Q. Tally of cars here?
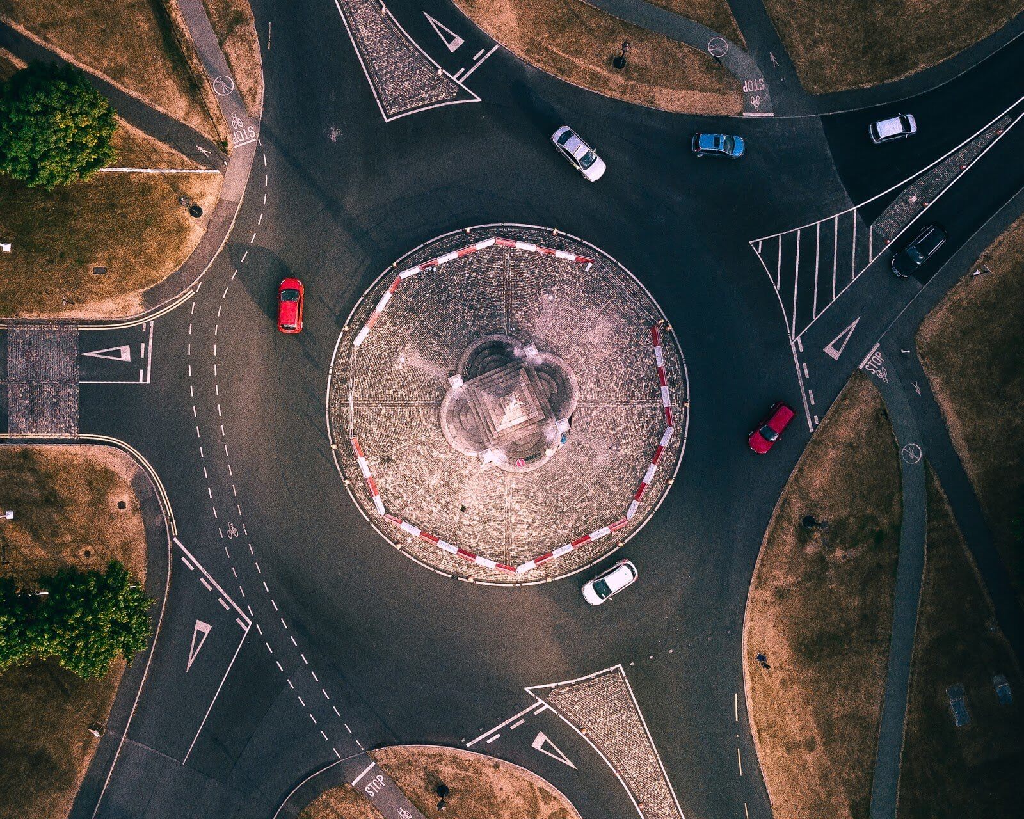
seven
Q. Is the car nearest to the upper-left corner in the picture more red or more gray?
red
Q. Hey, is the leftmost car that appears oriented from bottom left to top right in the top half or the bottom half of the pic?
bottom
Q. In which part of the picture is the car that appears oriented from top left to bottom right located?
top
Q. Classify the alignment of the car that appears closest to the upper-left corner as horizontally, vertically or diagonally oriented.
vertically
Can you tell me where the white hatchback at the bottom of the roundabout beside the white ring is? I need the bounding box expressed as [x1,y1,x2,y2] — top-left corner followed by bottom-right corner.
[583,560,638,602]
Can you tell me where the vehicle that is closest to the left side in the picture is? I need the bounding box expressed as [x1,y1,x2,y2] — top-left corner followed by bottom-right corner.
[276,278,305,334]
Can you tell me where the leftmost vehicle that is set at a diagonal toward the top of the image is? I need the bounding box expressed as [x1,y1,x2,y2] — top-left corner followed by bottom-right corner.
[553,126,603,181]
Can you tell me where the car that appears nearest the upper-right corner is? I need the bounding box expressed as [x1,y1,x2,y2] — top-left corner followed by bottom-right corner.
[868,113,915,144]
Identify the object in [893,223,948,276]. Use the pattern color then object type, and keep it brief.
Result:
black car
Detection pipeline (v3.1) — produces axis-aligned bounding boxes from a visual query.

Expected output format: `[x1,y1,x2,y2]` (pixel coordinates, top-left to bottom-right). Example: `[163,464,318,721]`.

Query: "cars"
[868,113,915,144]
[750,401,795,454]
[692,131,745,160]
[553,126,603,181]
[276,278,305,334]
[893,223,948,276]
[583,560,638,602]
